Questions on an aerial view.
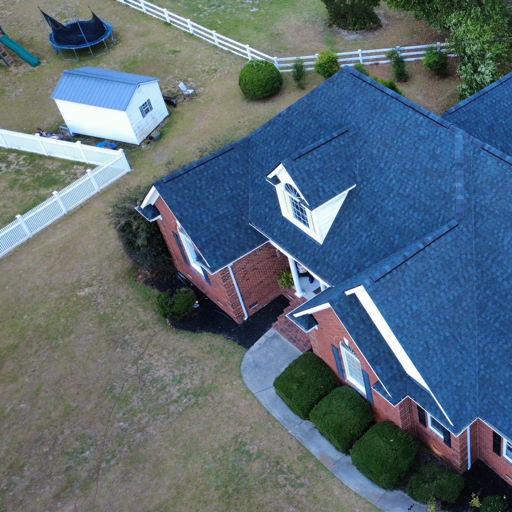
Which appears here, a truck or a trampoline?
trampoline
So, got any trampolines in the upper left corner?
Yes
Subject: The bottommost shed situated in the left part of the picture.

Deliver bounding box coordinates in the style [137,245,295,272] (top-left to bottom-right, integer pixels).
[54,70,169,145]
